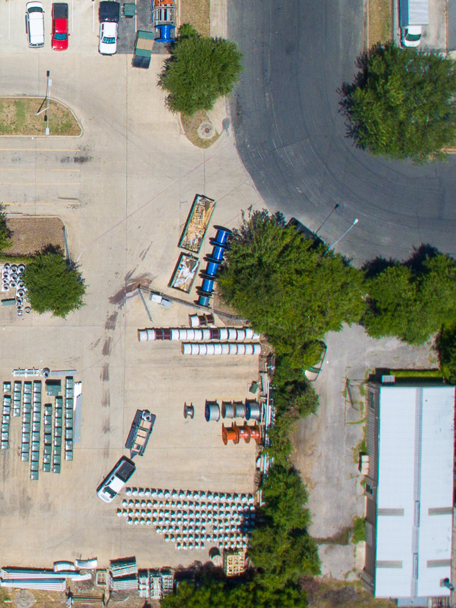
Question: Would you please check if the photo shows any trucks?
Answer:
Yes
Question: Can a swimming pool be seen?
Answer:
No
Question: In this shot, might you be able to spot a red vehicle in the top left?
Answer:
Yes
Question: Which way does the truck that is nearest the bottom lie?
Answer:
at an angle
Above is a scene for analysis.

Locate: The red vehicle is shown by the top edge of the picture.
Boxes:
[50,2,70,52]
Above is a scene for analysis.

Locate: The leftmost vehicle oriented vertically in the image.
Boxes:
[25,2,45,50]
